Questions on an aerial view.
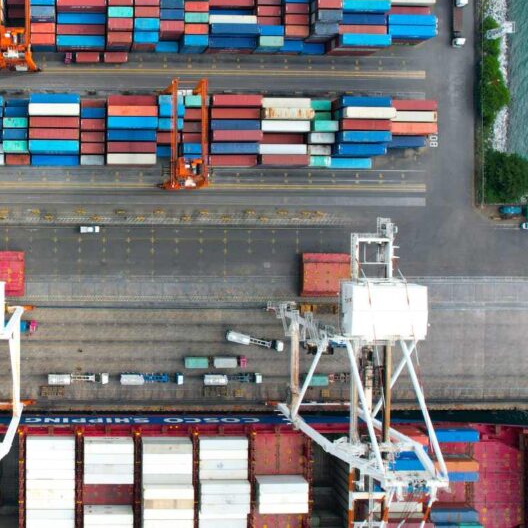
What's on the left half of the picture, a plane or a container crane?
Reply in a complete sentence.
There is a container crane on the left half of the picture.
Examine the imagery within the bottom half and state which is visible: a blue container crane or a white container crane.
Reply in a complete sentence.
The one visible within the bottom half is a white container crane.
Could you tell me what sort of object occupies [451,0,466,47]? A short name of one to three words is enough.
vehicle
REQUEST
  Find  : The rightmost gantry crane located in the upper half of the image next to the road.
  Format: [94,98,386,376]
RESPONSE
[149,81,206,195]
